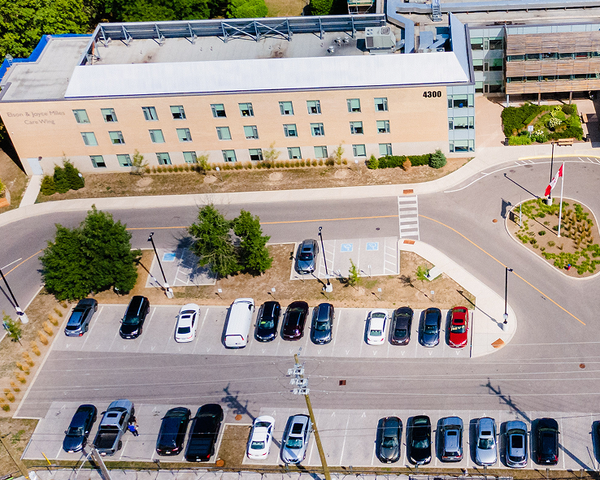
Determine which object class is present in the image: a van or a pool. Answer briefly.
van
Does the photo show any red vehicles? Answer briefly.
Yes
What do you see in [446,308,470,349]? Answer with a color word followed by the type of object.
red car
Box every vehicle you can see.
[152,407,193,460]
[89,398,137,458]
[375,416,403,467]
[245,416,278,465]
[446,308,470,349]
[437,417,464,467]
[117,294,154,340]
[294,240,319,274]
[364,310,389,349]
[502,421,527,468]
[182,404,225,465]
[418,308,442,349]
[533,419,560,469]
[171,306,203,344]
[61,301,100,338]
[309,302,336,343]
[472,417,499,469]
[61,404,102,454]
[405,416,432,467]
[280,301,308,342]
[253,301,282,342]
[390,308,414,348]
[220,301,258,348]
